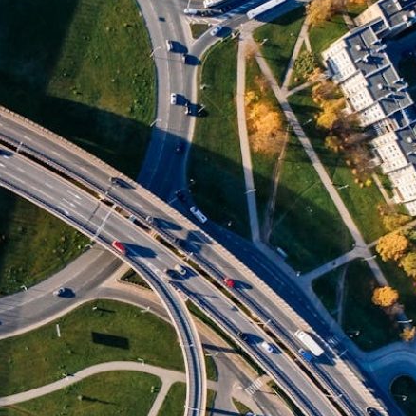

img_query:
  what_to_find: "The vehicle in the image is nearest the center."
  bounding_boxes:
[190,206,207,222]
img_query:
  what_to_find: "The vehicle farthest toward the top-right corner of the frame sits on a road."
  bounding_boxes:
[247,0,285,20]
